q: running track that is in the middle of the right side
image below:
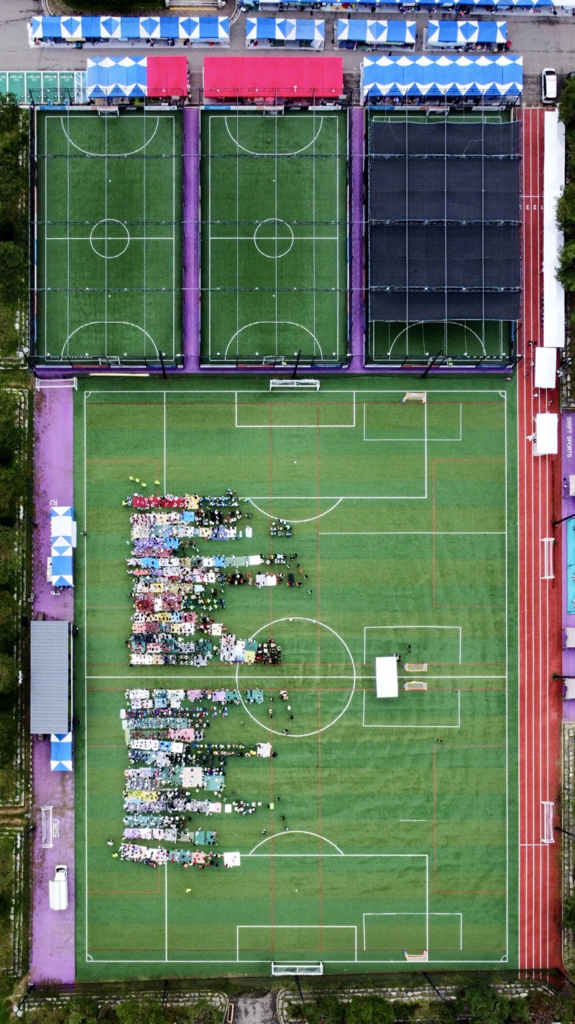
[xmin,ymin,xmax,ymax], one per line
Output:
[518,108,562,980]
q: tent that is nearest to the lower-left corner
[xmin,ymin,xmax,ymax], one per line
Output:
[50,731,75,771]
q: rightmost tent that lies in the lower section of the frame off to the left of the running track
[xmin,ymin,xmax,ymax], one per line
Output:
[374,656,397,697]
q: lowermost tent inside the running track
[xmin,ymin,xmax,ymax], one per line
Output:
[532,414,557,458]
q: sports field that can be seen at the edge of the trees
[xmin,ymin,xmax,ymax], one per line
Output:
[75,373,518,983]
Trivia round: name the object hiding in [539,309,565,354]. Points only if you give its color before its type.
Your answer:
white tent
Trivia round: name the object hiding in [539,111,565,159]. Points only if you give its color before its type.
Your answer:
white tent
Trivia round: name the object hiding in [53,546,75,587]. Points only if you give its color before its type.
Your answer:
blue tent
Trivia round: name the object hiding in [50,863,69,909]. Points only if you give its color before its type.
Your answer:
white vehicle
